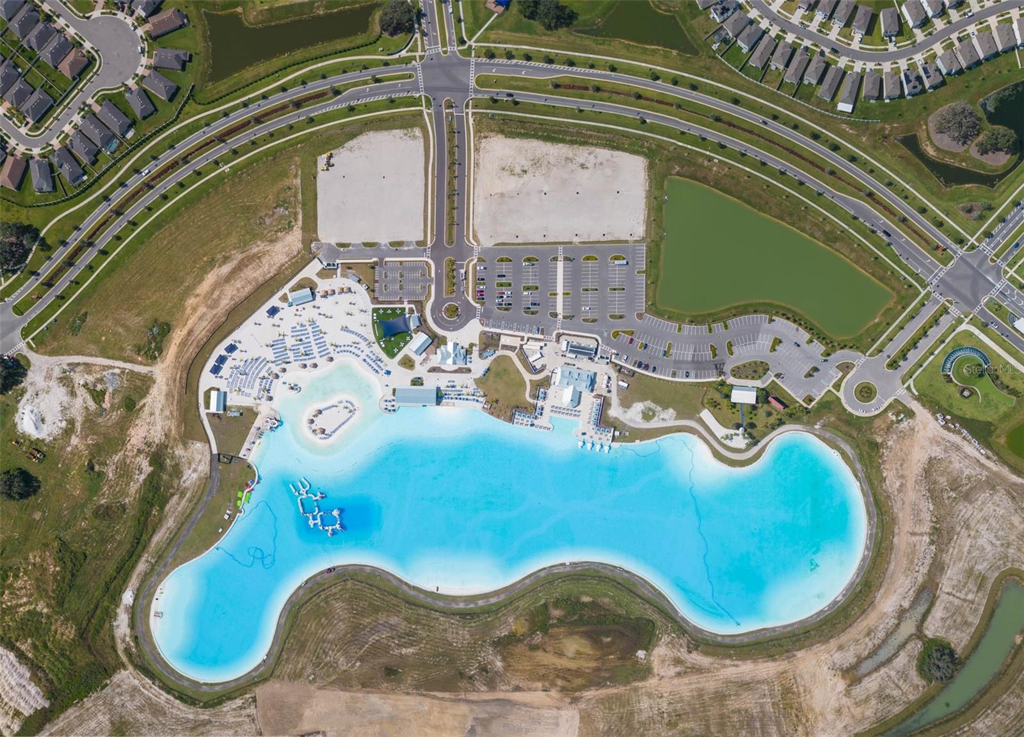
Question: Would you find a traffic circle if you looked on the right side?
Yes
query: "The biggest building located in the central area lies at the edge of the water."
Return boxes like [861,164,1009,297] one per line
[554,366,597,410]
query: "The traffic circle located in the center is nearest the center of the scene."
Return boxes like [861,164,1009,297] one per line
[429,290,478,333]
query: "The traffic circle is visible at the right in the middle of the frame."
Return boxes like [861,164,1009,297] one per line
[842,349,905,417]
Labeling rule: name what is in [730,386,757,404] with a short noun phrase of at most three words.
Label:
building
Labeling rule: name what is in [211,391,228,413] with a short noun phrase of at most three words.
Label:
shed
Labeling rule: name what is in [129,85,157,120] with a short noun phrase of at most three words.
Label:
house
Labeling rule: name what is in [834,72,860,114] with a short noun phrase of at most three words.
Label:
house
